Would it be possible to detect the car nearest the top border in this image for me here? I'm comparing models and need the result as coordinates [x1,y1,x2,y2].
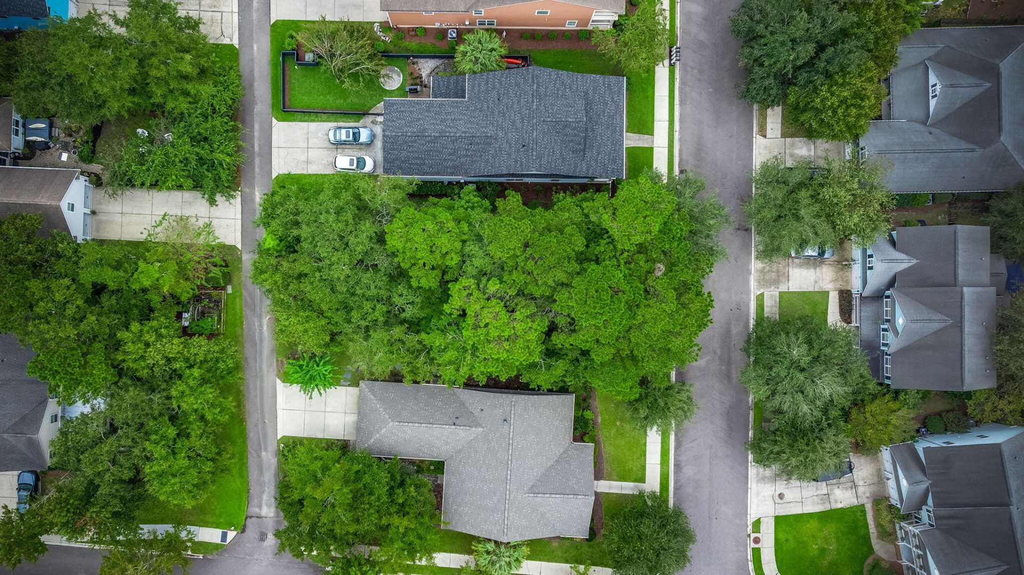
[328,125,373,145]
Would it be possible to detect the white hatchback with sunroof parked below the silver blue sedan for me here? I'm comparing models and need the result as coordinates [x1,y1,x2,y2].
[333,153,375,173]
